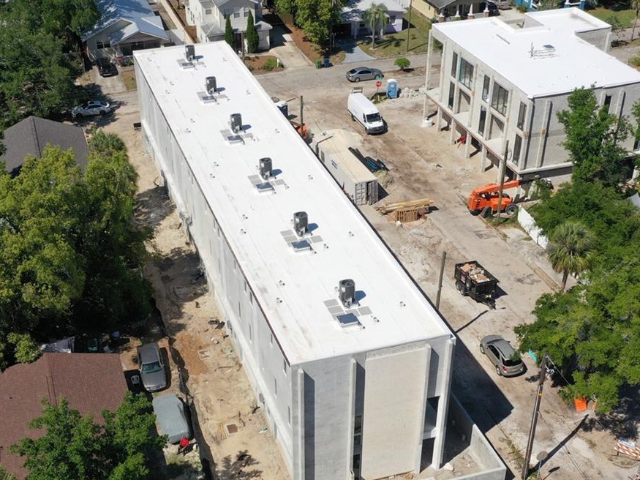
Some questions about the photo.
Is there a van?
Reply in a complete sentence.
Yes, the photo shows a van.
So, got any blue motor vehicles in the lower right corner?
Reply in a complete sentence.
No, looking in the lower right corner, there is no blue motor vehicle.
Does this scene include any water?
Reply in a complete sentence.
No, there's no water in this view.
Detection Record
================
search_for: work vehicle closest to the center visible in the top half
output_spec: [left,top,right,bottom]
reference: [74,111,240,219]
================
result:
[305,123,326,146]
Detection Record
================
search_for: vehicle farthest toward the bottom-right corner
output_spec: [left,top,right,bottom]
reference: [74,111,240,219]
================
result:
[474,329,522,370]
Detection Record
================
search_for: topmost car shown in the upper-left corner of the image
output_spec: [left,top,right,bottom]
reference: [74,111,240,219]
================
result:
[96,56,117,74]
